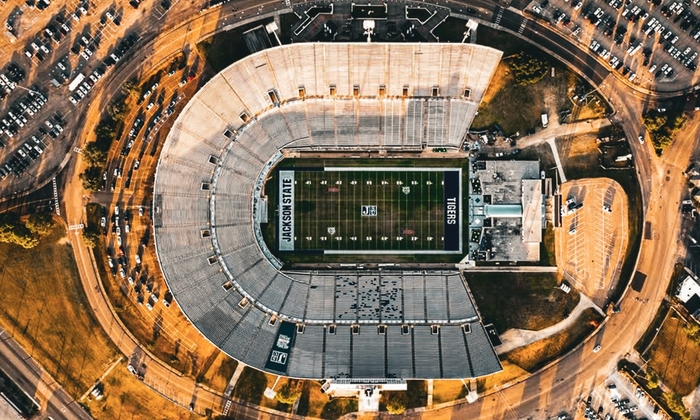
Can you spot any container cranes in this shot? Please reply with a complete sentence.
No, there's no container crane here.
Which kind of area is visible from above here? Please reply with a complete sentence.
This image shows a sports ground.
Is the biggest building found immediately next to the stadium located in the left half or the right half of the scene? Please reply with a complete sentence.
The biggest building found immediately next to the stadium is on the right side of the image.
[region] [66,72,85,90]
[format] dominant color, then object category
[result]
white vehicle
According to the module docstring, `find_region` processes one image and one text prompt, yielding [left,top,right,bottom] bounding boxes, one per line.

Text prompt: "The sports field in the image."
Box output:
[261,157,469,265]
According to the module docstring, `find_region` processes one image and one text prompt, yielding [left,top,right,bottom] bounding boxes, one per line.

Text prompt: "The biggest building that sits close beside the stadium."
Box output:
[468,159,543,262]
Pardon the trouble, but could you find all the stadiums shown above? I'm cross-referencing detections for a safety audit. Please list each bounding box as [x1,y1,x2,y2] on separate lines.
[152,40,504,411]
